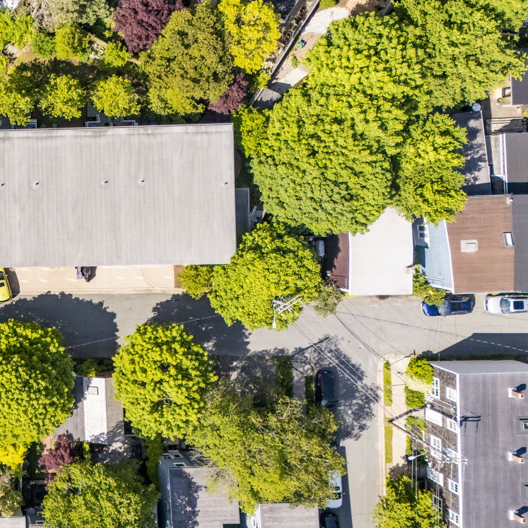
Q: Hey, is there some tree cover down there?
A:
Yes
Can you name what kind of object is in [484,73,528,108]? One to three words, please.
house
